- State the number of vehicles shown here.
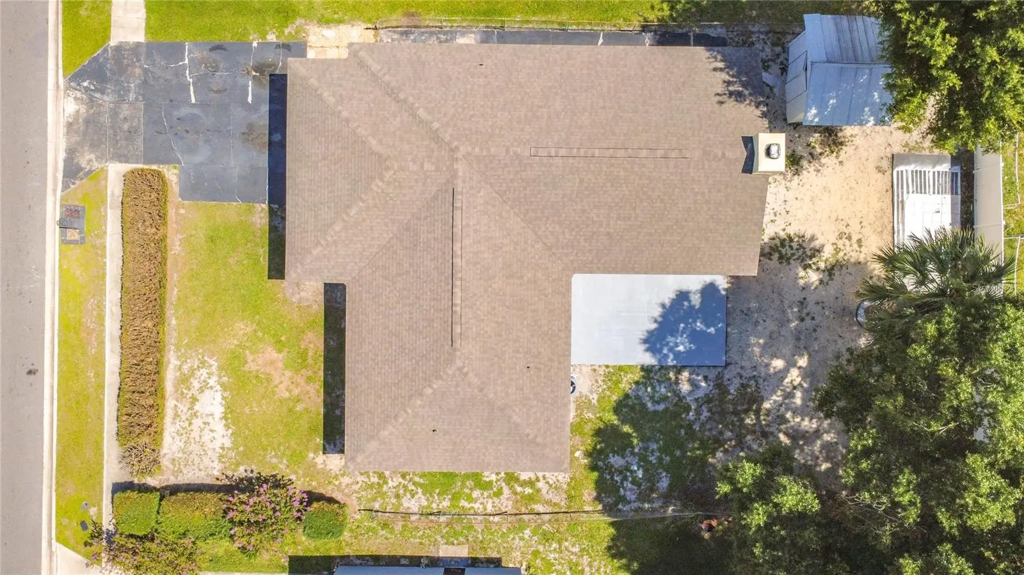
0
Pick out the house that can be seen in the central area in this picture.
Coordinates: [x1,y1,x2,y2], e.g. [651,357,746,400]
[286,45,784,472]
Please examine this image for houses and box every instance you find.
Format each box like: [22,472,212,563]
[331,564,522,575]
[286,45,784,472]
